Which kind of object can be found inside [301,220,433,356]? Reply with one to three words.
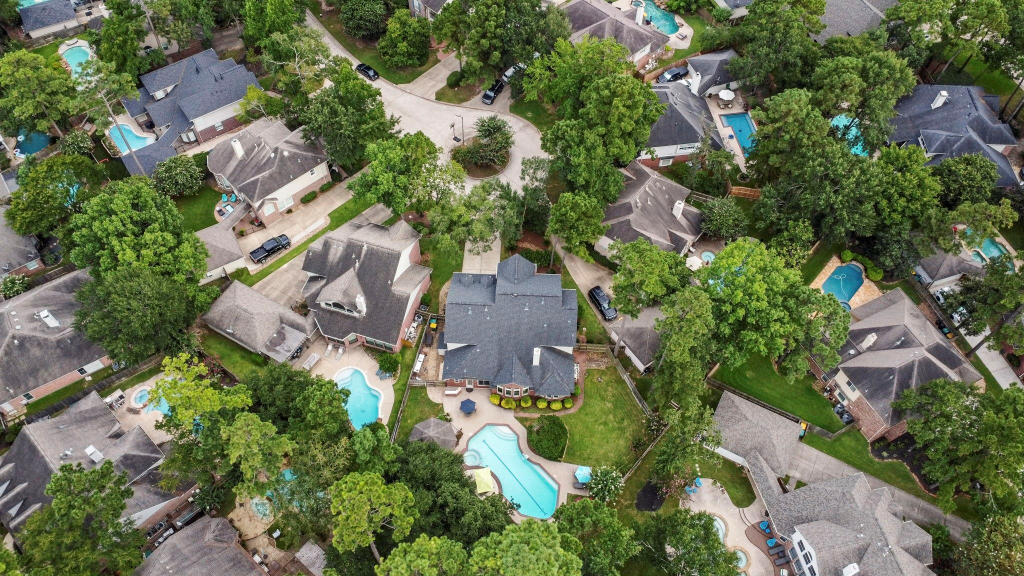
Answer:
house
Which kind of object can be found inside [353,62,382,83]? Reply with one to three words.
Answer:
car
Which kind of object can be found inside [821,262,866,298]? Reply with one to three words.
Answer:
swimming pool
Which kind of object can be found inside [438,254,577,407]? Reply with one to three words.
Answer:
house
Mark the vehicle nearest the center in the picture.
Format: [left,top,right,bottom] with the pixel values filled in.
[588,284,619,323]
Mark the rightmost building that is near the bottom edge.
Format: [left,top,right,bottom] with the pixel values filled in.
[764,472,936,576]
